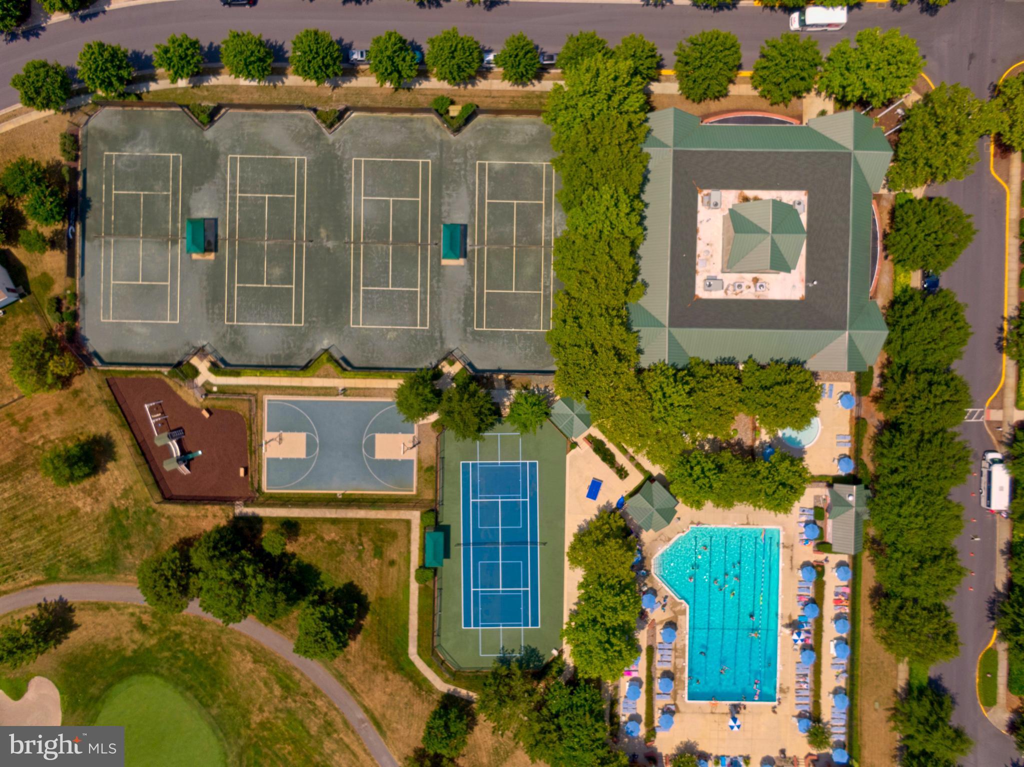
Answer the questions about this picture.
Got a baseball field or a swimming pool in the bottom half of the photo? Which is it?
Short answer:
swimming pool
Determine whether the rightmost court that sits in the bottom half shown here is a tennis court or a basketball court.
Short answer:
tennis court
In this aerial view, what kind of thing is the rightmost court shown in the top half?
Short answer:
tennis court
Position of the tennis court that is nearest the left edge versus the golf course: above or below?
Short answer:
above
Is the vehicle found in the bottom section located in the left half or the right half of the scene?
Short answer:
right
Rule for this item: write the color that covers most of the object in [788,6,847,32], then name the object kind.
white vehicle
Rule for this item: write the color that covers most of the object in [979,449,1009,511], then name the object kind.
white vehicle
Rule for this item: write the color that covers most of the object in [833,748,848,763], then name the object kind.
blue umbrella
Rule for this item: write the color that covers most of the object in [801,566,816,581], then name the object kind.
blue umbrella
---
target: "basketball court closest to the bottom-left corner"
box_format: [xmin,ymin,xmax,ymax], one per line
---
[263,396,418,494]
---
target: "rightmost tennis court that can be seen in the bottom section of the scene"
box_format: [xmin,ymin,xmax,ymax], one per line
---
[435,419,567,671]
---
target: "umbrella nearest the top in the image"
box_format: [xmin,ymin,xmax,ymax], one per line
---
[839,394,854,408]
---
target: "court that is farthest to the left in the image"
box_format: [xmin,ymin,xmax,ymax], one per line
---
[80,108,205,366]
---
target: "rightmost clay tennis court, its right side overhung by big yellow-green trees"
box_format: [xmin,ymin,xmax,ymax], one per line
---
[450,117,564,373]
